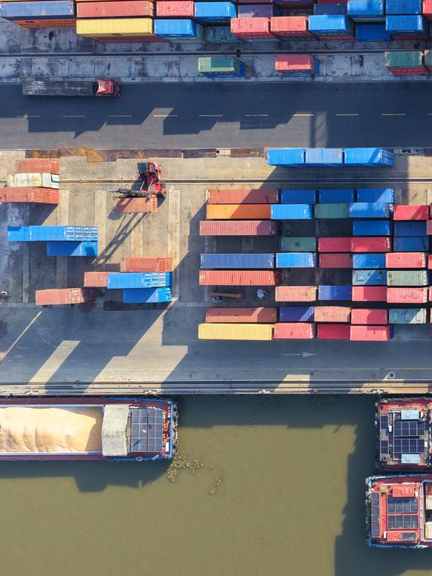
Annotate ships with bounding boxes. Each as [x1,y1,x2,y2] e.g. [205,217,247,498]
[374,397,432,471]
[0,399,181,461]
[365,474,432,548]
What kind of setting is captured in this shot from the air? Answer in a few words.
port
